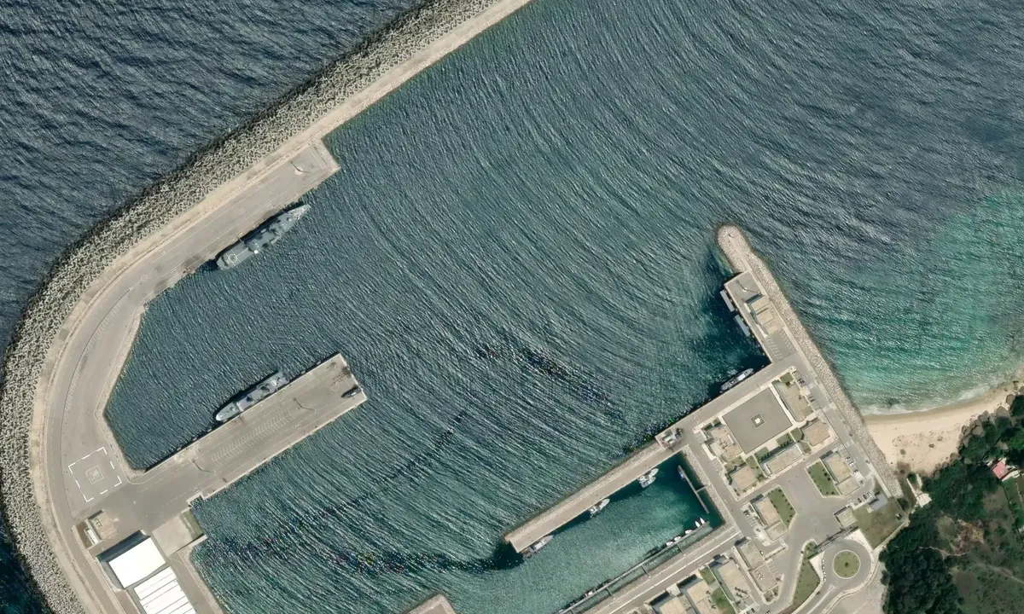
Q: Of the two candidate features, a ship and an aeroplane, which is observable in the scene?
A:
ship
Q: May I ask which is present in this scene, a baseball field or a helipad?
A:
helipad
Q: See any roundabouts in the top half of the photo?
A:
No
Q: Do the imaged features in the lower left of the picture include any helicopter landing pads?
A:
Yes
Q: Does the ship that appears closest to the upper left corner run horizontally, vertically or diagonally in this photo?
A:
diagonally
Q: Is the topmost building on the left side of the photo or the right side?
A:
right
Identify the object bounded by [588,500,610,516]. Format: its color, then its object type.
white boat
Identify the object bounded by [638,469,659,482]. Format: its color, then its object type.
white boat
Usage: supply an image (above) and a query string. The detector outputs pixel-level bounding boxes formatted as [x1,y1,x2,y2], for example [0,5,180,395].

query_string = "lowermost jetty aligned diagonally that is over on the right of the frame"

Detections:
[555,522,709,614]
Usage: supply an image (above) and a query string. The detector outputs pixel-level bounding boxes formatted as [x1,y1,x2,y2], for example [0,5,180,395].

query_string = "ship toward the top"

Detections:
[215,206,311,272]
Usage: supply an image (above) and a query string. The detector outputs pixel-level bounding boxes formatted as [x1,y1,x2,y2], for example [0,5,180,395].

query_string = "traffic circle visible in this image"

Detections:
[825,542,869,587]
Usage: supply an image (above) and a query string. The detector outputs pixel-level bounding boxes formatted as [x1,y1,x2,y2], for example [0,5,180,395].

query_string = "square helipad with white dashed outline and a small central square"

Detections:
[69,448,121,502]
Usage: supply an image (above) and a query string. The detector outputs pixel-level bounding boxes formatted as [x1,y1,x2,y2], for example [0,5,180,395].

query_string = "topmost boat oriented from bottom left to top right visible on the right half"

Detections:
[720,370,754,391]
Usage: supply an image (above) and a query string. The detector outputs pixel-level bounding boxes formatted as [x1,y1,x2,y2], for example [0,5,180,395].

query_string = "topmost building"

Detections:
[743,295,785,338]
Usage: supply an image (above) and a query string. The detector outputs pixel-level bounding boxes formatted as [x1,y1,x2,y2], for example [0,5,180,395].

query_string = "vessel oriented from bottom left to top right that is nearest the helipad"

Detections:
[215,373,287,419]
